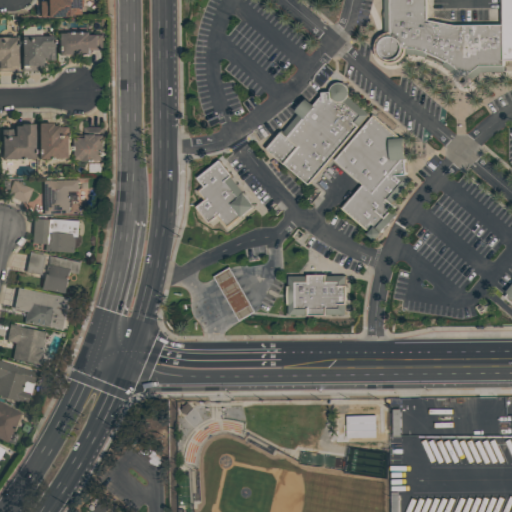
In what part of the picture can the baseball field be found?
bottom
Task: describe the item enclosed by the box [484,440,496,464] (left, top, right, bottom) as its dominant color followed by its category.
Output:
white vehicle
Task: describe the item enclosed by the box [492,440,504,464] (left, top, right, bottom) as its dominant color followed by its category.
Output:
white vehicle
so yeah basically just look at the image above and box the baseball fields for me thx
[196,430,388,512]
